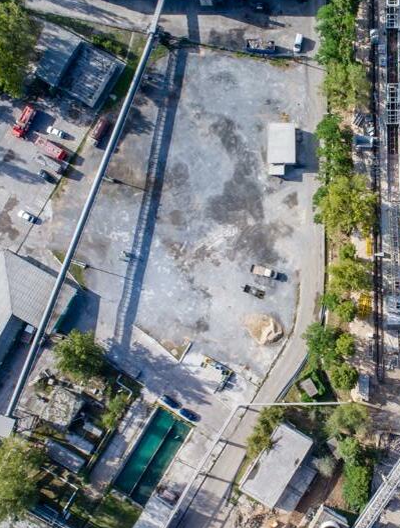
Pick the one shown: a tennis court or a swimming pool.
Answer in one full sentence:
I can see a swimming pool in this picture.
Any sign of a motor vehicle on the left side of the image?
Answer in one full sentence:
Yes, I can see a motor vehicle on the left side of the image.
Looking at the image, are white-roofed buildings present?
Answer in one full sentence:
Yes, the image includes a white-roofed building.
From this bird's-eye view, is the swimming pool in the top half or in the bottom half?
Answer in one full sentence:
Seen from above, the swimming pool lies in the bottom half of the view.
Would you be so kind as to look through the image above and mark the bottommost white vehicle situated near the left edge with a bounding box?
[19,211,35,224]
